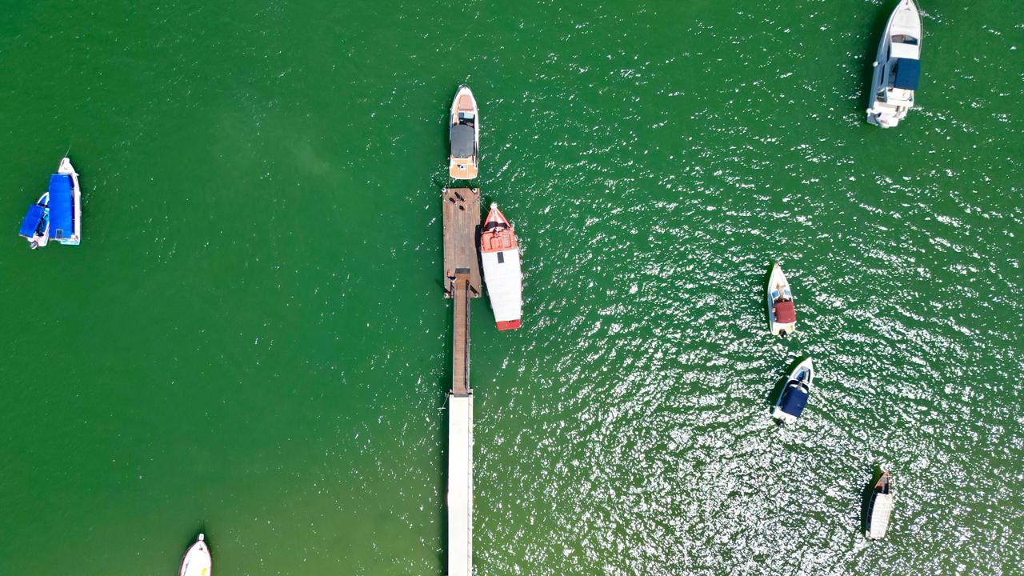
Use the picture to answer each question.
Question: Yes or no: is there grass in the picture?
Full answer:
No, there is no grass in the image.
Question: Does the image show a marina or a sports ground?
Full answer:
The picture captures a marina.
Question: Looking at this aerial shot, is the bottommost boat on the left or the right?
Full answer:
It is on the left.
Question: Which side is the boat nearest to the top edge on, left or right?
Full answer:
You can find the boat nearest to the top edge on the right side of the picture.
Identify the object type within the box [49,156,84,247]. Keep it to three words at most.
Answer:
boat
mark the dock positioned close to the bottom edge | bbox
[446,388,473,576]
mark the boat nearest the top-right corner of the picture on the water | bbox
[865,0,924,129]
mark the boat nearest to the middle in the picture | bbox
[479,203,522,331]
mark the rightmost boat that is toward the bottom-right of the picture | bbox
[865,468,893,542]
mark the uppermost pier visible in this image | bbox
[442,187,482,299]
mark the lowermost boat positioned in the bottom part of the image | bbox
[179,536,213,576]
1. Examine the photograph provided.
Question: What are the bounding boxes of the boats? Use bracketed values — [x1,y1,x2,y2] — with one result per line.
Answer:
[21,191,50,250]
[479,203,522,331]
[767,264,796,338]
[179,536,213,576]
[446,83,481,179]
[49,156,84,247]
[865,468,893,542]
[865,0,924,129]
[774,356,814,424]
